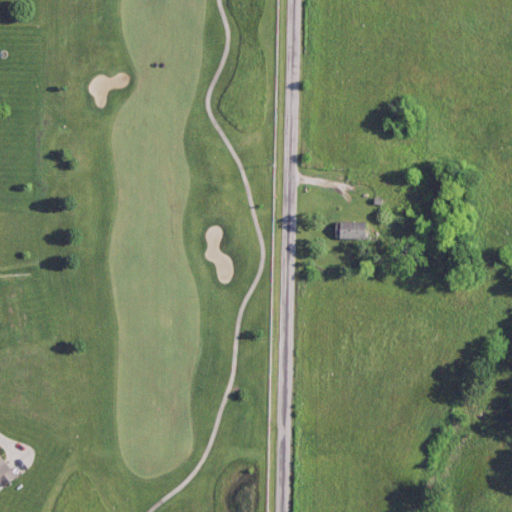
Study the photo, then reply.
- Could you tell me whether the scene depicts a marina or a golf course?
golf course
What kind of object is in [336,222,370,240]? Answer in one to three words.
house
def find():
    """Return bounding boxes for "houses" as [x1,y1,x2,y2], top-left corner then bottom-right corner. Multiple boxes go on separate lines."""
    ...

[0,460,18,490]
[336,222,370,240]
